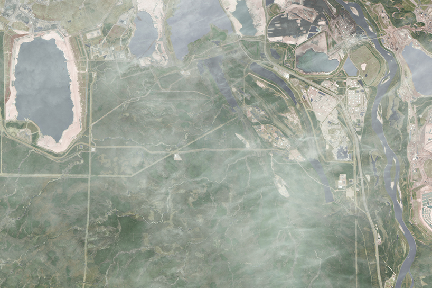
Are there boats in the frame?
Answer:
No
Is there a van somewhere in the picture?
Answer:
No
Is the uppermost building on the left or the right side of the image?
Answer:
right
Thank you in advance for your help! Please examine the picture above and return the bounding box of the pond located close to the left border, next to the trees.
[13,38,73,143]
